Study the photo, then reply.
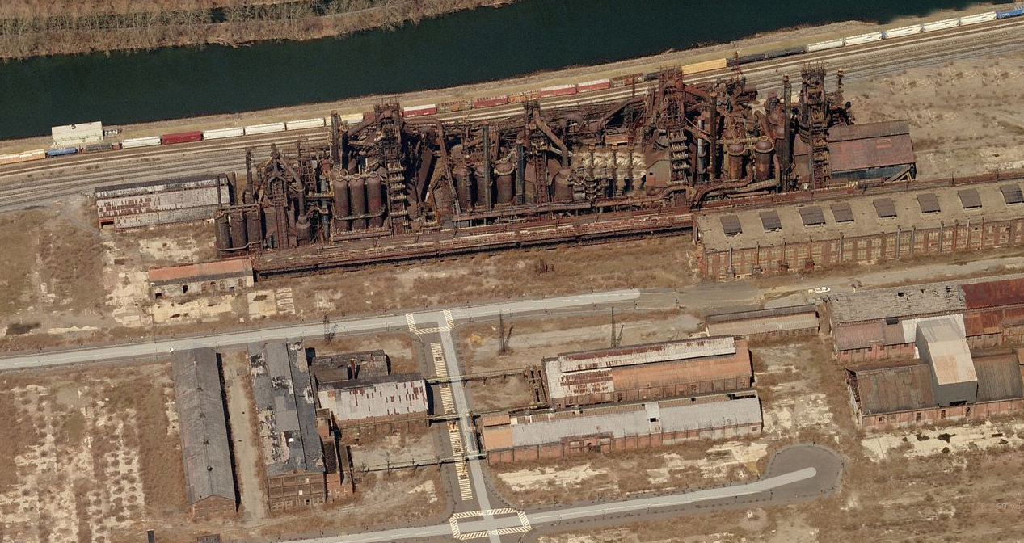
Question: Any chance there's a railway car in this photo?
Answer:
Yes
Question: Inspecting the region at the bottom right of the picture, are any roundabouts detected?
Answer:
Yes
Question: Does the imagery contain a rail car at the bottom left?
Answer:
No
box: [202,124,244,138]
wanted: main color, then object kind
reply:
white rail car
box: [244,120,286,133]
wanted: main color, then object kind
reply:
white rail car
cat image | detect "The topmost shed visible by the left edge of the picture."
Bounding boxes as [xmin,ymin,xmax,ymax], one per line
[50,115,103,147]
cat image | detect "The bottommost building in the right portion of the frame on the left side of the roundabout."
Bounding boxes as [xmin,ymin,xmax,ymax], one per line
[481,387,764,464]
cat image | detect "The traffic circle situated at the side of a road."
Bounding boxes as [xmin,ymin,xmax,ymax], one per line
[762,437,852,504]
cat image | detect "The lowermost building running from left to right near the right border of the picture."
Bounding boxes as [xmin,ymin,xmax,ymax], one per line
[849,350,1024,429]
